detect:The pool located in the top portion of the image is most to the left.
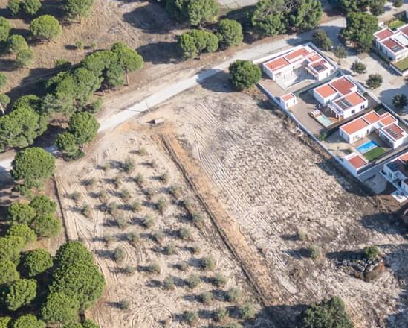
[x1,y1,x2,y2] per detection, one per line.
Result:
[313,112,335,127]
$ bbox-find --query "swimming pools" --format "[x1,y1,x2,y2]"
[355,138,380,155]
[313,112,335,127]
